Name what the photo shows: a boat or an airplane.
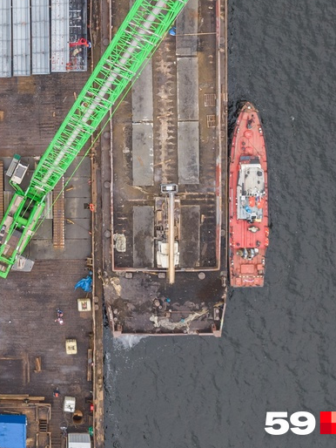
boat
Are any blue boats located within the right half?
No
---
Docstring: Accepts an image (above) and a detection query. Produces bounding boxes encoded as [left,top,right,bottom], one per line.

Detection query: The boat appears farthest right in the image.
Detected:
[228,101,271,287]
